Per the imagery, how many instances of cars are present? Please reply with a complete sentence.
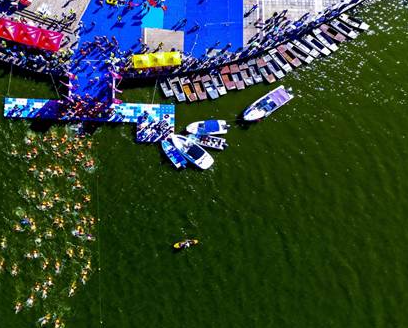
The count of cars is 0.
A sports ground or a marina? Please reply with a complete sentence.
What you see here is a marina.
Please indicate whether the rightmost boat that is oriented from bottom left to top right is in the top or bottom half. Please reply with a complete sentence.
The rightmost boat that is oriented from bottom left to top right sits in the top half of the picture.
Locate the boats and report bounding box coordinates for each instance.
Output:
[172,135,213,169]
[160,79,173,97]
[173,236,199,250]
[257,55,275,81]
[265,53,285,78]
[191,77,206,100]
[169,77,185,102]
[295,35,319,58]
[278,43,301,67]
[313,27,338,51]
[185,121,230,135]
[231,63,245,90]
[240,63,255,86]
[222,65,236,90]
[179,76,195,101]
[162,140,183,168]
[203,74,218,98]
[287,39,312,63]
[330,17,357,40]
[192,133,228,150]
[304,32,330,55]
[321,22,345,44]
[270,47,292,73]
[211,70,227,95]
[249,59,264,83]
[340,11,368,31]
[242,85,292,119]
